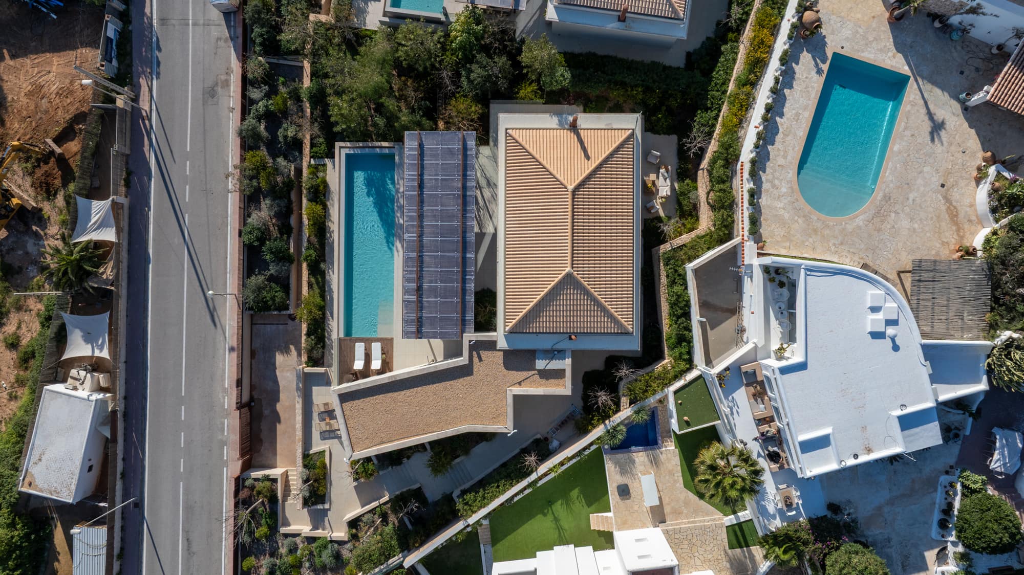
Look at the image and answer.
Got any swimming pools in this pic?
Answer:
Yes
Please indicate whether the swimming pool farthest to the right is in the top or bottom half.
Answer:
top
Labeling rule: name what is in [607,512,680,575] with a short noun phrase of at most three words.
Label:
house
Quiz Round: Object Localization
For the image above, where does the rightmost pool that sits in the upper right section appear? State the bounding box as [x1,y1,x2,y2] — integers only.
[792,46,916,218]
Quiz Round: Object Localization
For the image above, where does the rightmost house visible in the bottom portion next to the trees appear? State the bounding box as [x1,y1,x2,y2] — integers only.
[761,267,993,479]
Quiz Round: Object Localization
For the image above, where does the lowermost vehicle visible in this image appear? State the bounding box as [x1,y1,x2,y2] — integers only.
[0,137,69,244]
